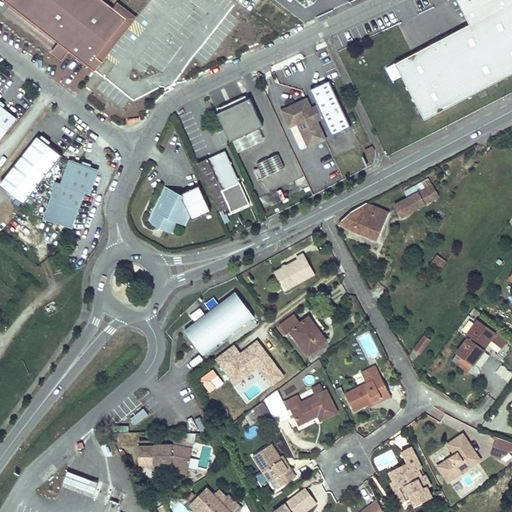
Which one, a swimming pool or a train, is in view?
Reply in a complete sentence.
This aerial view contains a swimming pool.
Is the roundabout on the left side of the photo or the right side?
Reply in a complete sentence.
You can find the roundabout on the left side of the picture.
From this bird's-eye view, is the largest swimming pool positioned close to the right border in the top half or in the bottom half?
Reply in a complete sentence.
You can find the largest swimming pool positioned close to the right border in the bottom half.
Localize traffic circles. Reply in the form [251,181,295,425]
[90,246,172,326]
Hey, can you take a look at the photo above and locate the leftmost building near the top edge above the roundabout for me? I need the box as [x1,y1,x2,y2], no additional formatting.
[6,0,137,69]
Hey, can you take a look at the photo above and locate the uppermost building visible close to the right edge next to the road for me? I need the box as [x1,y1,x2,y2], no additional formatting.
[395,0,512,122]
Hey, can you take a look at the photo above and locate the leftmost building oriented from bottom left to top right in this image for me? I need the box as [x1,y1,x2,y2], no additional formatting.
[0,136,60,204]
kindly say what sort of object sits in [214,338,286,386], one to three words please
house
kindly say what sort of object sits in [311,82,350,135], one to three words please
building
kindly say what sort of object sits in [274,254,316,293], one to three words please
house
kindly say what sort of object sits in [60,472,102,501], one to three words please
shed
